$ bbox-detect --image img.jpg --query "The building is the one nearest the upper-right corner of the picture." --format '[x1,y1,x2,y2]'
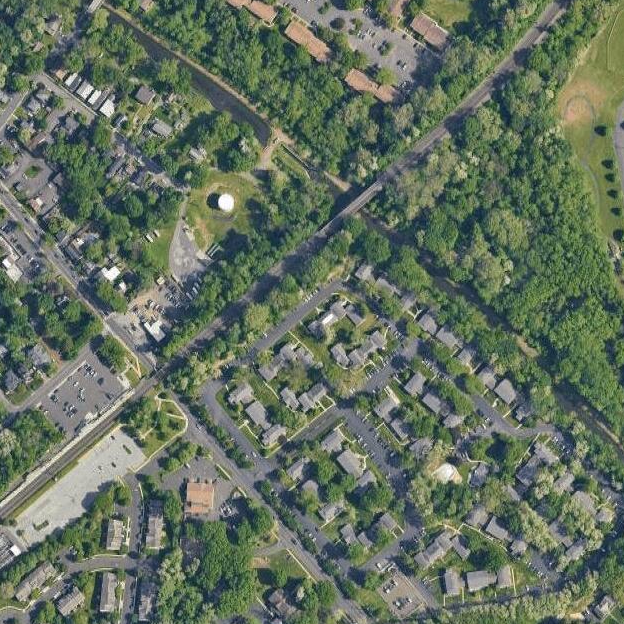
[410,14,450,50]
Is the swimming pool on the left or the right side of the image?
right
